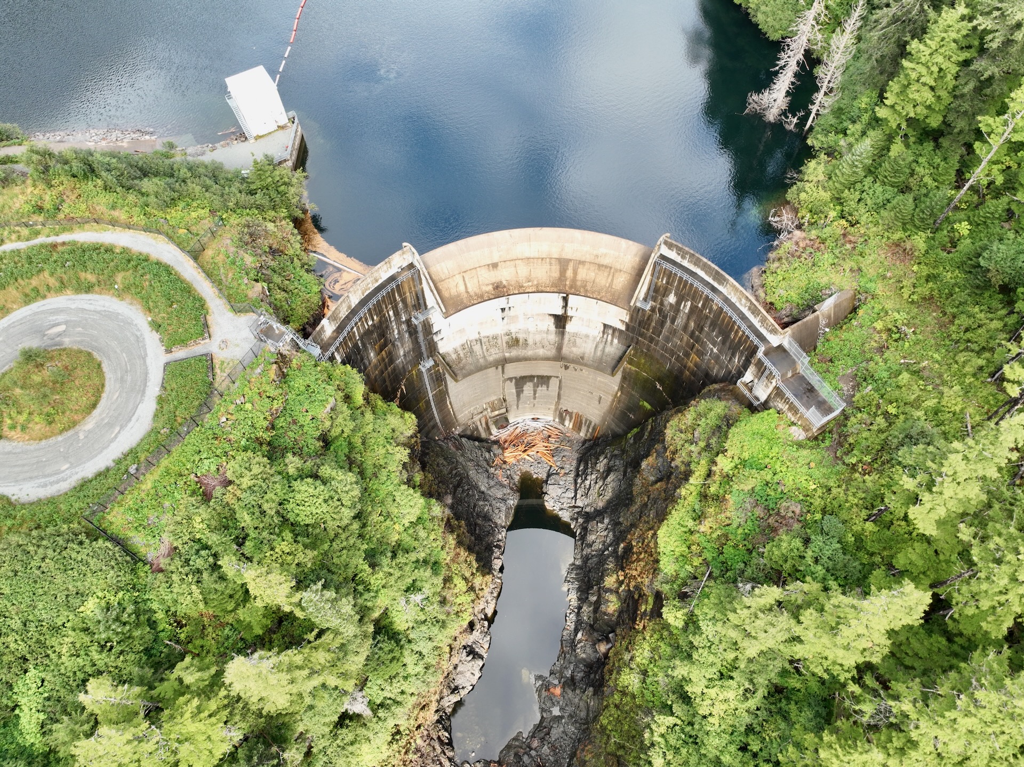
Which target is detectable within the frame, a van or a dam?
dam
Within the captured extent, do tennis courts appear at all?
No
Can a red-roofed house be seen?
No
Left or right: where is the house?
left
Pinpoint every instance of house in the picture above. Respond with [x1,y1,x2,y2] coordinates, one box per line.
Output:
[225,68,291,141]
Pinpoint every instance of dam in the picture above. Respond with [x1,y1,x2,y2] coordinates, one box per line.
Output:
[303,230,786,448]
